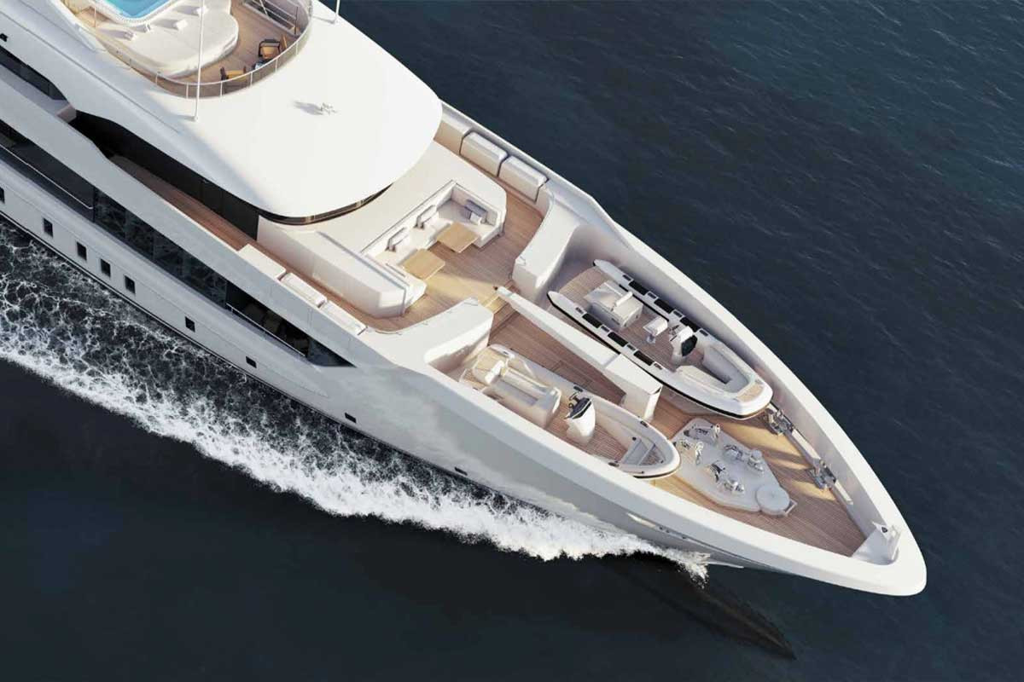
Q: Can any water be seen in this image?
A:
Yes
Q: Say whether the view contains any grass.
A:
No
